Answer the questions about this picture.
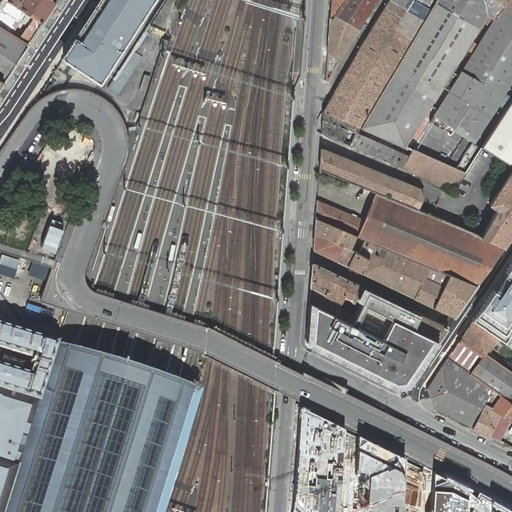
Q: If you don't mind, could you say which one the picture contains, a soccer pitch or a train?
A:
train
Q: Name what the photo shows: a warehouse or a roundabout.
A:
warehouse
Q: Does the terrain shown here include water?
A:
No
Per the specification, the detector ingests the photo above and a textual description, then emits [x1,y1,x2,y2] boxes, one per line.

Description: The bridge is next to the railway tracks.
[70,288,512,508]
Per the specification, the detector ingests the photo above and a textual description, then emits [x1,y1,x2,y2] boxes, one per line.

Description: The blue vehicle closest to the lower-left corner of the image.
[24,302,52,316]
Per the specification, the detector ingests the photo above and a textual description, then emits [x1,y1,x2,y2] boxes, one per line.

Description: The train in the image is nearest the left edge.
[138,238,159,304]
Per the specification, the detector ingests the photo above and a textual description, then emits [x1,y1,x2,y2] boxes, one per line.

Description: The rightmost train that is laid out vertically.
[164,234,188,314]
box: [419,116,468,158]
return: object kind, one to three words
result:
building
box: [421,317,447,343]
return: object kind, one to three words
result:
shed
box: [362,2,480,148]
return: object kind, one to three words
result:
warehouse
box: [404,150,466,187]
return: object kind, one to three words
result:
house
